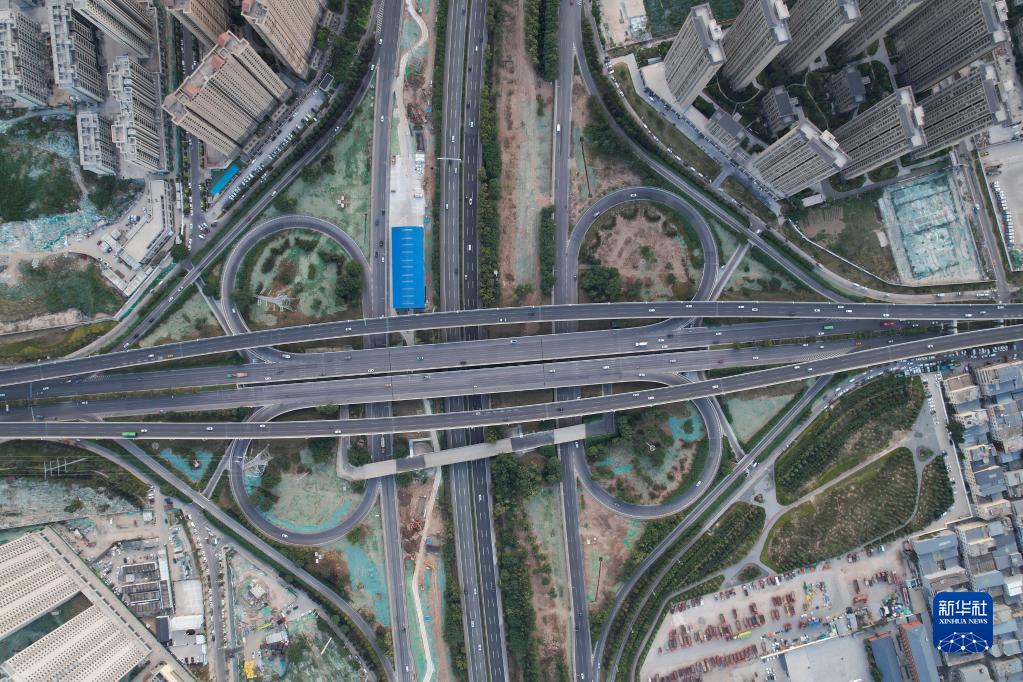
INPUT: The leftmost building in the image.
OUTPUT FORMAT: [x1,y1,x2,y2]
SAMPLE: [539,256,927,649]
[0,9,50,108]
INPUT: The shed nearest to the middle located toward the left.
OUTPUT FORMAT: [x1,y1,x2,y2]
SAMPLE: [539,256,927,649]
[392,226,427,309]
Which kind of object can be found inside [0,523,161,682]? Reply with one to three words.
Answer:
warehouse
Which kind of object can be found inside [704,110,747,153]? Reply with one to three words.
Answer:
house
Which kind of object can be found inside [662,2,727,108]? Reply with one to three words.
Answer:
building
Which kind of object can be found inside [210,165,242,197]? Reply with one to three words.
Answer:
shed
